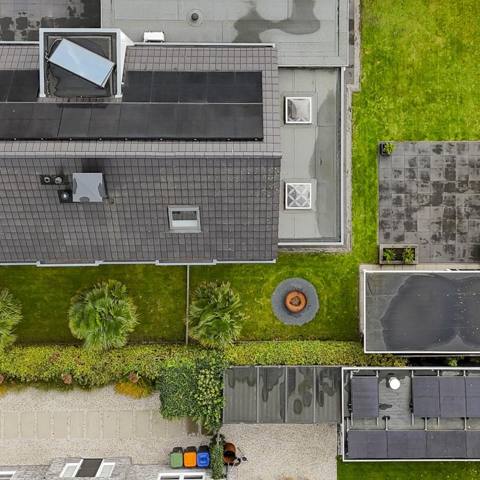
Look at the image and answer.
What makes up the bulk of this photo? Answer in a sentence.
The scene is dominated by buildings.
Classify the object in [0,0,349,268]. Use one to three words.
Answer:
house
